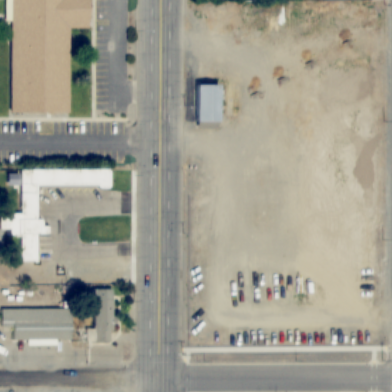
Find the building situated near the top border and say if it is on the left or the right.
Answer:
left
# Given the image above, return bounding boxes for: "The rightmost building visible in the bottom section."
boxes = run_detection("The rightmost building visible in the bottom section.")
[92,288,113,342]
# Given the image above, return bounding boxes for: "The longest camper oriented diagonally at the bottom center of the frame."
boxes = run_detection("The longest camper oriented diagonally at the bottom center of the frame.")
[186,320,208,337]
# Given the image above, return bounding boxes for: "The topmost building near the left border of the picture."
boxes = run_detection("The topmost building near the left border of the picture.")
[9,0,92,114]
